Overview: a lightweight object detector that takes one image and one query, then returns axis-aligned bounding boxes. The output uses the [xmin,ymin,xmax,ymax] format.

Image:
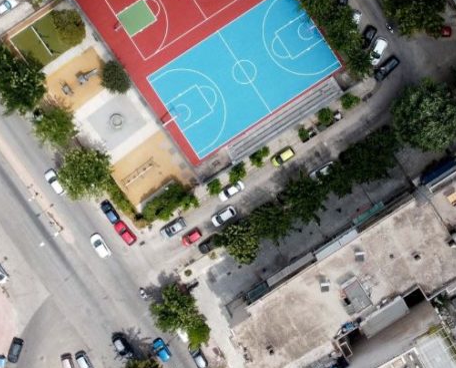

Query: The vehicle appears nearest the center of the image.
[218,182,245,201]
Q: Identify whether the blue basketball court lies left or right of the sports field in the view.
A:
to its right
